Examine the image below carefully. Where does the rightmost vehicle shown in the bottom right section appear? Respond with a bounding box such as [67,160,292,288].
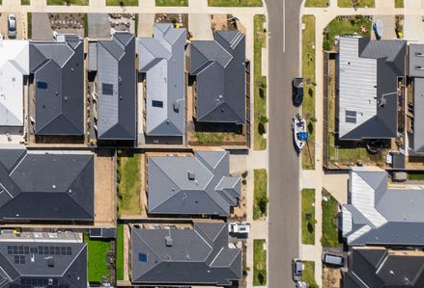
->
[322,254,345,268]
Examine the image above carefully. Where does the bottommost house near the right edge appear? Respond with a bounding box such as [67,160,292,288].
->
[339,246,424,288]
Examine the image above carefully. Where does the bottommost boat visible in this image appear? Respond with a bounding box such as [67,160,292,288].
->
[295,116,307,155]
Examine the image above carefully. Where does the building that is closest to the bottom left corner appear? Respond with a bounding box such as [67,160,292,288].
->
[0,238,88,288]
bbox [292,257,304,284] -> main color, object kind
gray vehicle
